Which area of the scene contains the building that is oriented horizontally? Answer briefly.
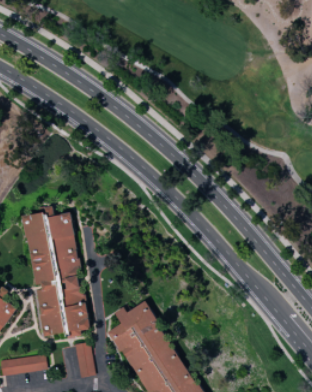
bottom left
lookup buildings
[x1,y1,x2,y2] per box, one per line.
[75,343,96,378]
[110,302,201,392]
[1,356,48,376]
[22,206,90,338]
[0,287,15,337]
